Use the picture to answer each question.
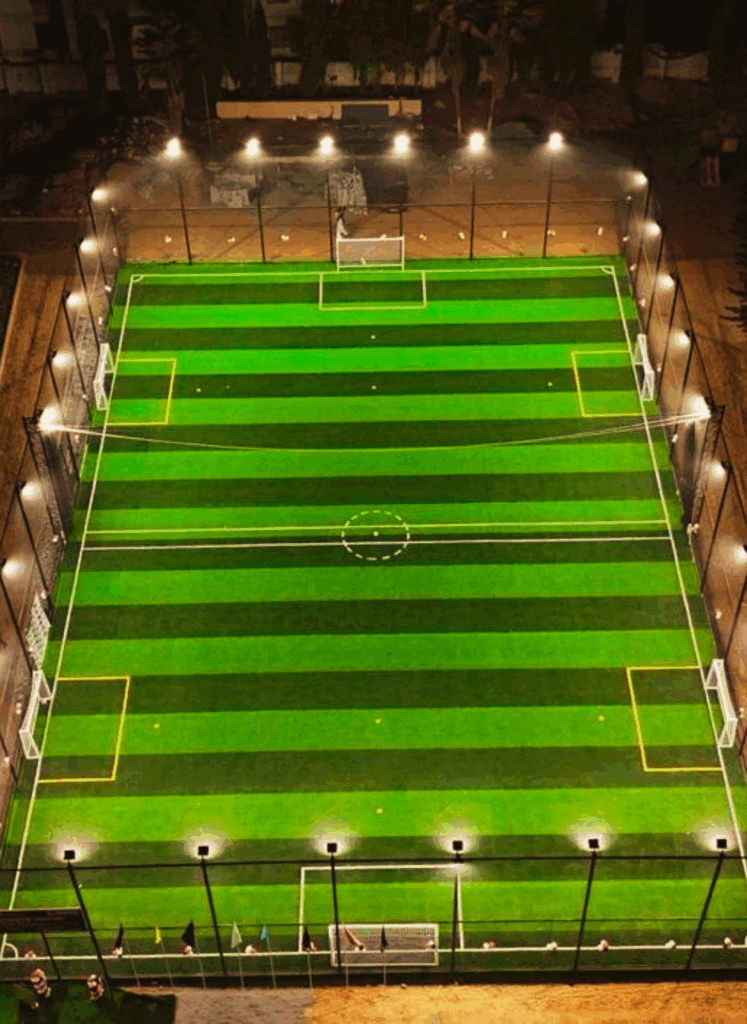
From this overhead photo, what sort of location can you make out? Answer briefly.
sports ground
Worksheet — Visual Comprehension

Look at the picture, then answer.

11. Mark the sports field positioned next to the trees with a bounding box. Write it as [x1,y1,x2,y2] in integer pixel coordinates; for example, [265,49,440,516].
[0,255,747,979]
